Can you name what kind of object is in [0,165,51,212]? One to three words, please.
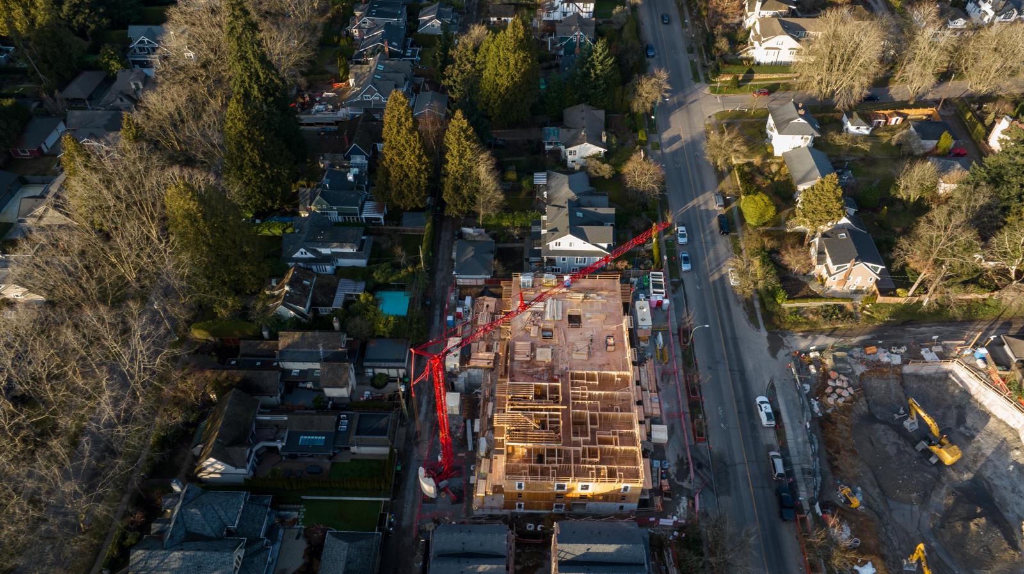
building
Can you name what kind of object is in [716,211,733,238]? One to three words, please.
vehicle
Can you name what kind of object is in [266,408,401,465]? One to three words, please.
house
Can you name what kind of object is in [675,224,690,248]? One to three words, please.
car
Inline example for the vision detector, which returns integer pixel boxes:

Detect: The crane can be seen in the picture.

[407,221,671,507]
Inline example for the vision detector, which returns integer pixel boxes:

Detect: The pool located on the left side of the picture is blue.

[377,287,411,318]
